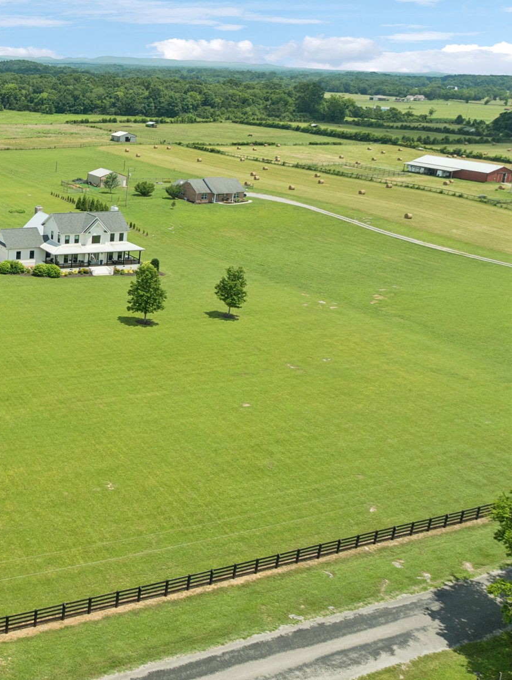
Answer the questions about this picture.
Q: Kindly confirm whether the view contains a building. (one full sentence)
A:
Yes, the picture does show a building.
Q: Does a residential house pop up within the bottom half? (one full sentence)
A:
No, looking within the bottom half, there is no residential house.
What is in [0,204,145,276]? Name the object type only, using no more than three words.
house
